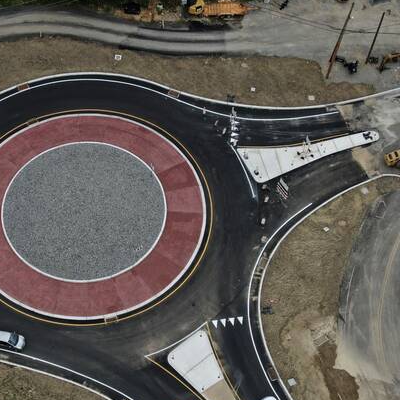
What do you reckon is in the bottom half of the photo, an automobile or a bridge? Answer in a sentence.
The one visible in the bottom half of the photo is an automobile.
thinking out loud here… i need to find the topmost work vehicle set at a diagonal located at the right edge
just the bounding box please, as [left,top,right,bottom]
[376,50,400,71]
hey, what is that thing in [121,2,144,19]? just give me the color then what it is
black car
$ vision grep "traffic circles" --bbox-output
[0,79,339,400]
